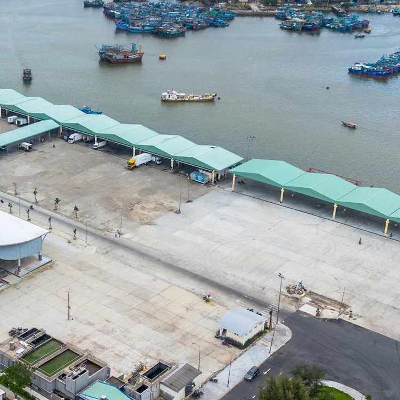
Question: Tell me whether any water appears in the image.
Yes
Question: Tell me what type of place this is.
industrial area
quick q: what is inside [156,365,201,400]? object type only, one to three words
house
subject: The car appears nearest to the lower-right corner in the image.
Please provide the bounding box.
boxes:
[247,365,266,381]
